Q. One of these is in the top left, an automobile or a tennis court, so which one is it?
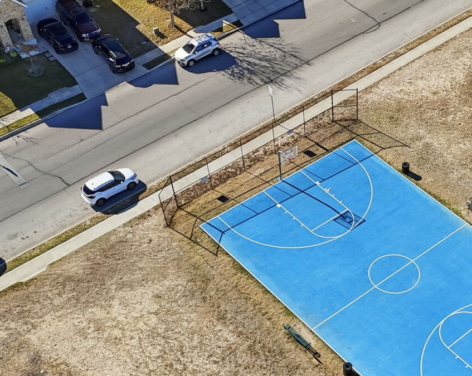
automobile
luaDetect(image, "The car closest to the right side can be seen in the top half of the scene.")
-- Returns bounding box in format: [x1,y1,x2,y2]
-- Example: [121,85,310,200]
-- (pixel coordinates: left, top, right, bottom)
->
[173,32,221,67]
